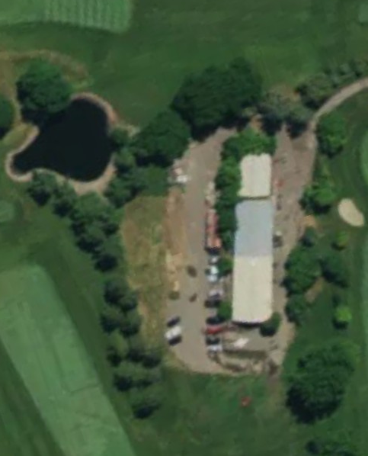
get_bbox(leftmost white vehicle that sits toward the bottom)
[164,325,181,338]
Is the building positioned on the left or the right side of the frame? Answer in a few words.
right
